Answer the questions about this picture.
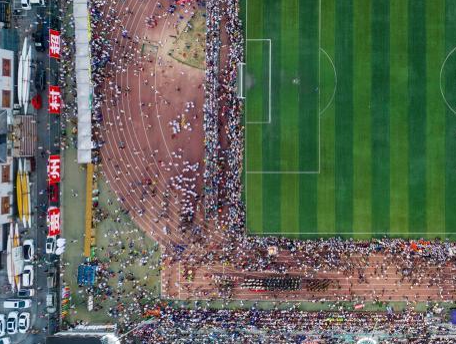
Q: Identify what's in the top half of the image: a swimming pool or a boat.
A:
boat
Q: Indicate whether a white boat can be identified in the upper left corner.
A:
Yes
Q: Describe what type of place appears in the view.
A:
sports ground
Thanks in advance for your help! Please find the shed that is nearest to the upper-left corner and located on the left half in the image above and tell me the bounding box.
[0,28,25,49]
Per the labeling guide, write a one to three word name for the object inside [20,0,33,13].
vehicle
